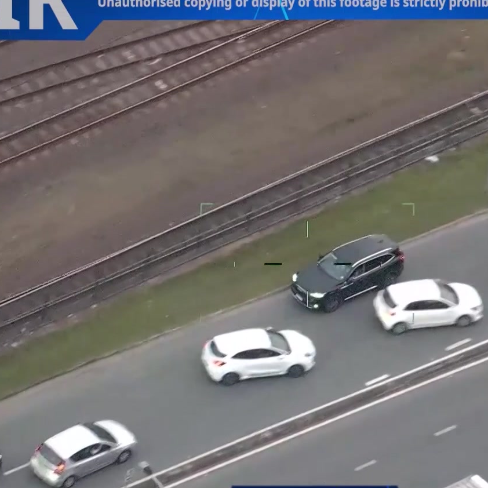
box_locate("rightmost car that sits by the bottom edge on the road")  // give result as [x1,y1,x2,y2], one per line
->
[28,415,137,488]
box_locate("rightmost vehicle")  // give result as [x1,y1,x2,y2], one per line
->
[374,273,481,335]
